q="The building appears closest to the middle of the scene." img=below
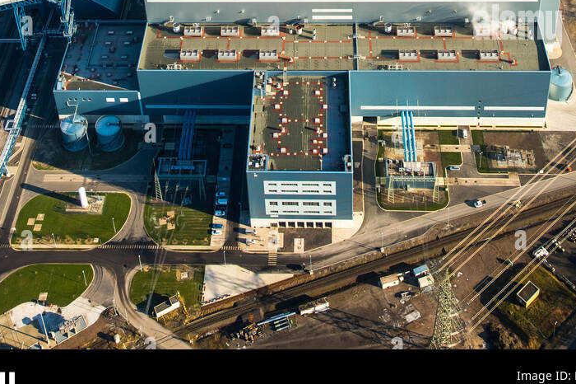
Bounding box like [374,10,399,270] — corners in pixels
[247,74,352,225]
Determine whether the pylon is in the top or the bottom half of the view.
bottom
